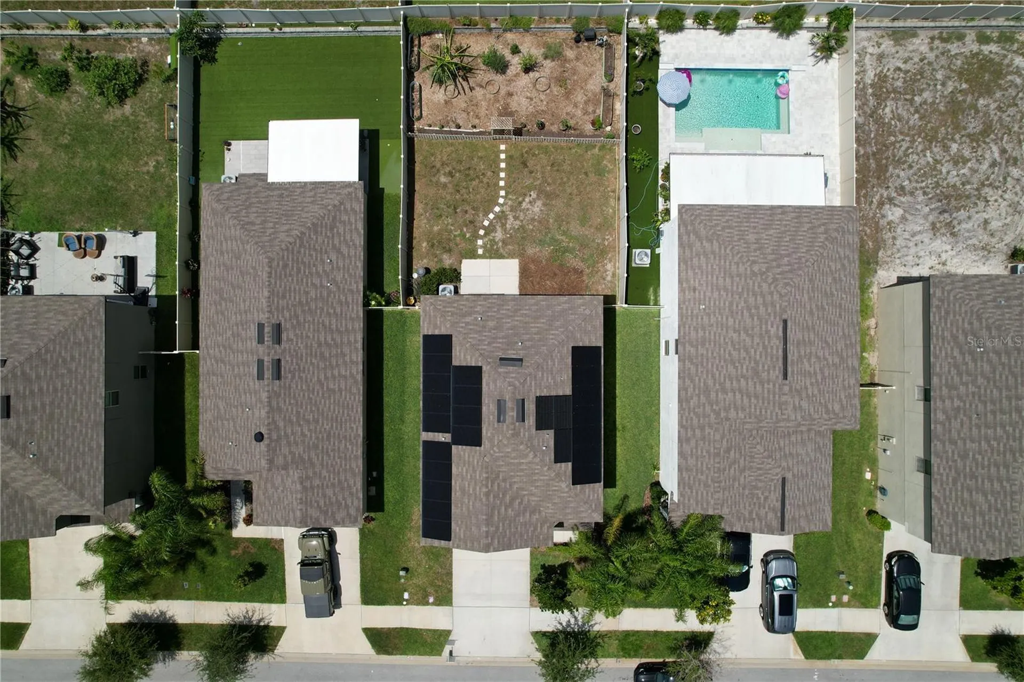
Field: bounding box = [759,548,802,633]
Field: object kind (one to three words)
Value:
car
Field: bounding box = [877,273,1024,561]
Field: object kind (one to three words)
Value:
house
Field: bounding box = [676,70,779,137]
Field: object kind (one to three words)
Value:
swimming pool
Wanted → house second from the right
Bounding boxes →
[656,153,860,537]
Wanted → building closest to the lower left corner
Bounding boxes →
[0,295,154,542]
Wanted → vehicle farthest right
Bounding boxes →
[882,549,925,629]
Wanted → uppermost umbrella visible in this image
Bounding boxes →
[657,72,690,105]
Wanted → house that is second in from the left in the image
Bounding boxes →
[199,118,367,529]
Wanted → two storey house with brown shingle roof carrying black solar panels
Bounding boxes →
[419,294,604,554]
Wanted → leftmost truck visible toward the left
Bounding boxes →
[293,528,336,616]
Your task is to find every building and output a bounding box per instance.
[419,294,604,554]
[199,118,367,529]
[877,273,1024,561]
[0,295,154,542]
[656,153,860,537]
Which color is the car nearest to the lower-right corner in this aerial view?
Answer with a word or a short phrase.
black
